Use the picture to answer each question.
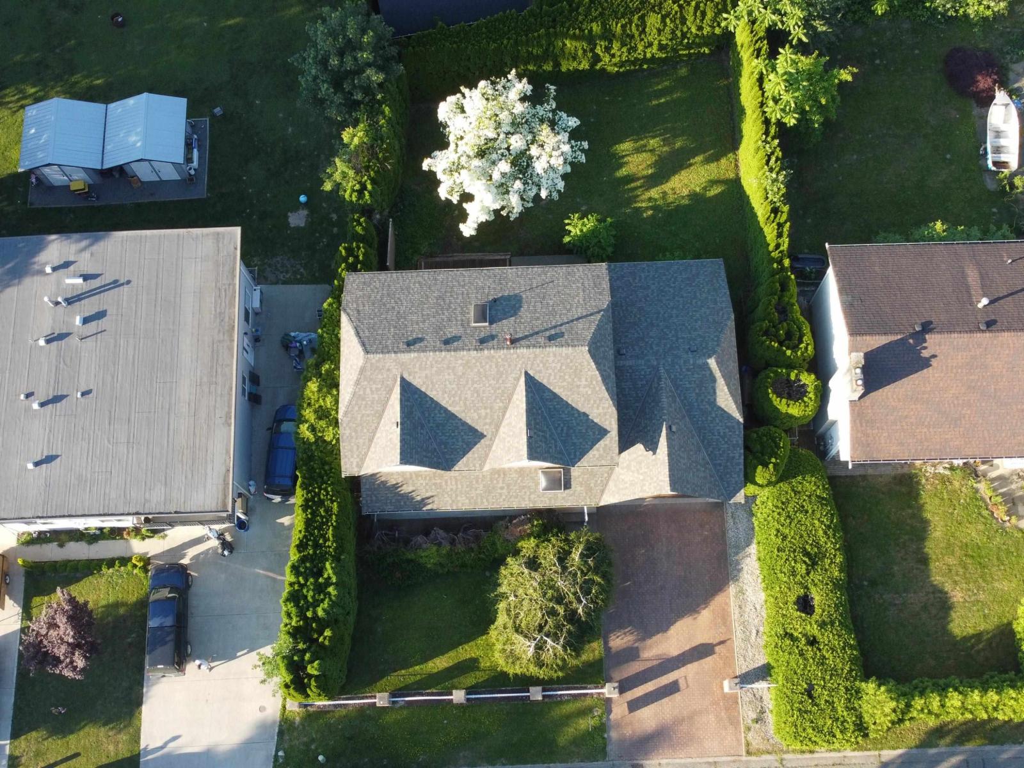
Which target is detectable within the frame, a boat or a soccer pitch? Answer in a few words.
boat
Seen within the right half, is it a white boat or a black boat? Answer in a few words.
white boat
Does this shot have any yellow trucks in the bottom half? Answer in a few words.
No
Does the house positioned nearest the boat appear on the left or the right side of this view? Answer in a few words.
right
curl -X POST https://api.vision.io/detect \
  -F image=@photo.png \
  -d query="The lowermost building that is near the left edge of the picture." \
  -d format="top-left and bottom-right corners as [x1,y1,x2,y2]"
[0,225,257,533]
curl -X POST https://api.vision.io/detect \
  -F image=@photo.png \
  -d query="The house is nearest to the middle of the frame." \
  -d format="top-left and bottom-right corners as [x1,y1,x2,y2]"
[337,257,744,519]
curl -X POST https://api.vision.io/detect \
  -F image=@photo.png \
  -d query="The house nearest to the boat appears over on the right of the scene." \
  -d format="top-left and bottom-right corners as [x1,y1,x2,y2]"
[810,235,1024,470]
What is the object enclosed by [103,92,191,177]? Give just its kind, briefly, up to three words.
shed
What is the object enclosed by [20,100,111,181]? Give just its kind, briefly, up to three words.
shed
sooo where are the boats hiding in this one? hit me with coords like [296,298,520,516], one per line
[987,91,1020,175]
